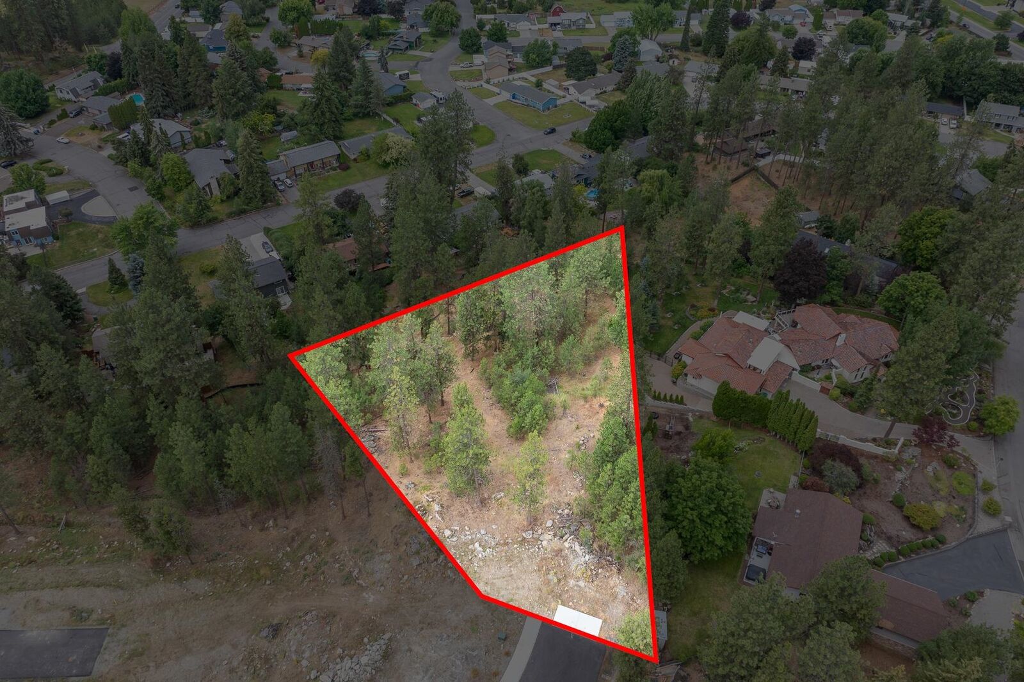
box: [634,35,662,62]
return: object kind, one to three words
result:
barn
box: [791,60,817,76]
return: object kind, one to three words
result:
shed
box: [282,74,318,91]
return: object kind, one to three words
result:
house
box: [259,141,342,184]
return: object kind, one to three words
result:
house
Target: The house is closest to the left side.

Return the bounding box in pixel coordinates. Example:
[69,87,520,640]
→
[0,198,61,254]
